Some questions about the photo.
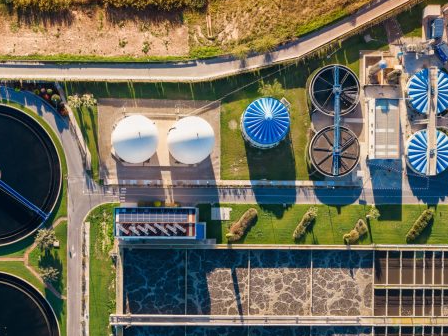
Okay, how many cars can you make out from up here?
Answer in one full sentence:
There are no cars in the image.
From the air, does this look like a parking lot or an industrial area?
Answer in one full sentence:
This looks like an industrial area.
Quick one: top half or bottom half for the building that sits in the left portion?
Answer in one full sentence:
The building that sits in the left portion sits in the bottom half of the picture.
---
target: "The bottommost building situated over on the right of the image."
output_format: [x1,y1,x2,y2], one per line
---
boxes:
[364,98,400,161]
